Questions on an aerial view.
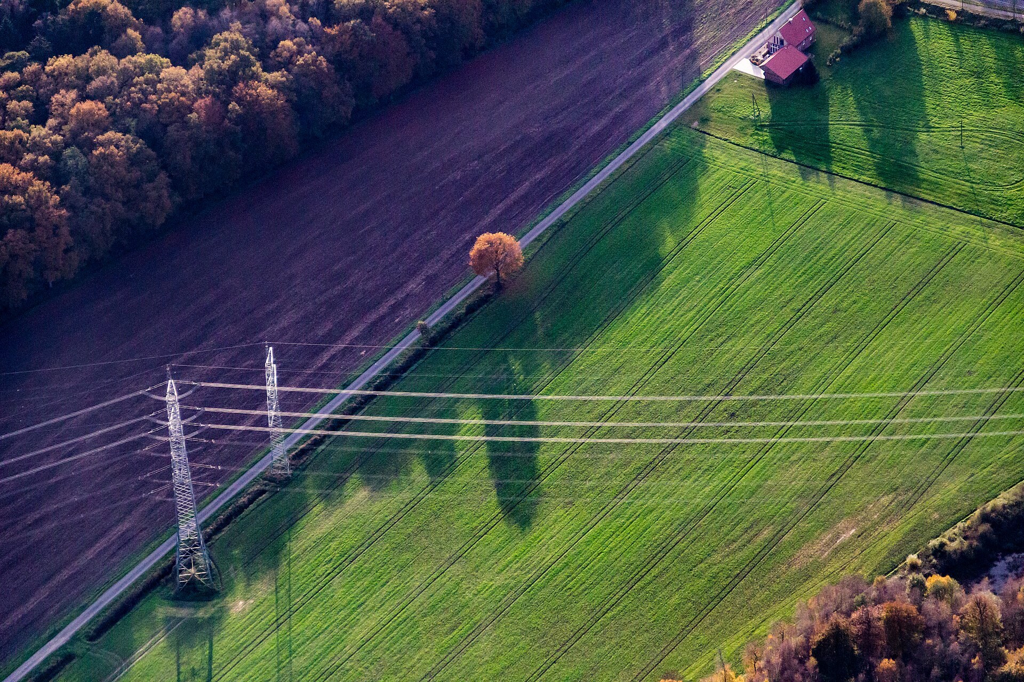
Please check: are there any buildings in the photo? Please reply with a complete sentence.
Yes, a building appears in the view.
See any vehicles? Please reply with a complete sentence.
No, there appears to be no vehicle in this shot.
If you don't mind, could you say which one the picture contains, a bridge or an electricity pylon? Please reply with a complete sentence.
This aerial view contains an electricity pylon.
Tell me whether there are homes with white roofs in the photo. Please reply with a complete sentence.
No, there's no home with a white roof here.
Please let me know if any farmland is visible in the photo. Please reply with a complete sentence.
Yes, some farmland is visible.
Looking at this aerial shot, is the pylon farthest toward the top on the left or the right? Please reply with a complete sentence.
It is on the left.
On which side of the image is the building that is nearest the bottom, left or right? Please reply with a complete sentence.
The building that is nearest the bottom is on the right side of the image.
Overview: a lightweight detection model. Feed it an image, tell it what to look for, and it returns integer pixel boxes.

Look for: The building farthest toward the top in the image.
[766,9,817,53]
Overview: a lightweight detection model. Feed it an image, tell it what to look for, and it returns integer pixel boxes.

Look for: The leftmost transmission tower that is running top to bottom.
[146,366,216,590]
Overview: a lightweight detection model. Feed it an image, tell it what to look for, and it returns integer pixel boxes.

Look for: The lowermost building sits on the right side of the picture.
[759,43,808,83]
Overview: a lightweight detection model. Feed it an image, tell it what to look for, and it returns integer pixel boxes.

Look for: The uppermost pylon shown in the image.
[263,340,290,477]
